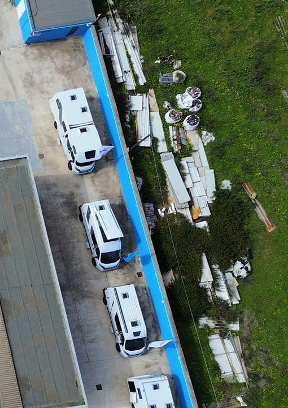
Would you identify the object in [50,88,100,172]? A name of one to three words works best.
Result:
camper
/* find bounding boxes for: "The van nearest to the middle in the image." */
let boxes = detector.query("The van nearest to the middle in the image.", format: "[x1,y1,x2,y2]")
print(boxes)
[78,200,126,271]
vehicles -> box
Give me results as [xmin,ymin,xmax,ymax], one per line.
[78,200,126,271]
[127,374,177,408]
[100,284,151,357]
[50,88,100,172]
